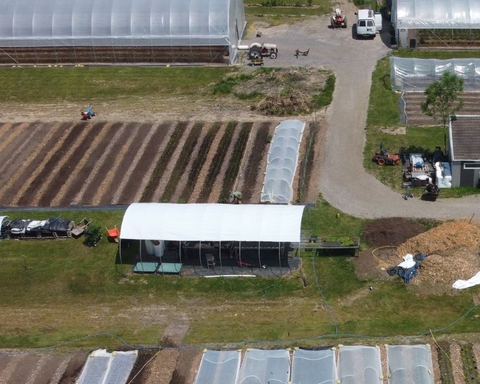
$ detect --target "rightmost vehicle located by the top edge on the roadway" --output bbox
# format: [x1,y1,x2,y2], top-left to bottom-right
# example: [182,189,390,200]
[357,8,387,36]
